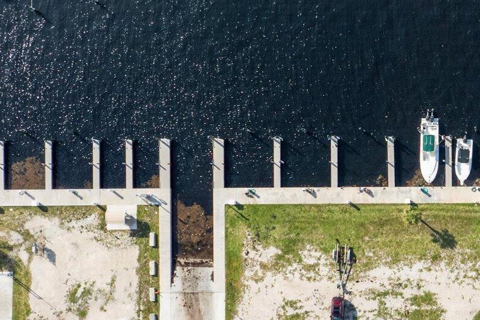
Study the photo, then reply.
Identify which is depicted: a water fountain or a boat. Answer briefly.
boat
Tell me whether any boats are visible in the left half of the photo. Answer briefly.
No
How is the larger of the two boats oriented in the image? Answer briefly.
vertically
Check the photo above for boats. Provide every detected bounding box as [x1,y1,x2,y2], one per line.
[419,109,441,184]
[454,133,473,184]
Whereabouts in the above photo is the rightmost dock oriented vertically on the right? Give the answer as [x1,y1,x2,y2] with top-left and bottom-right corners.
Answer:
[442,136,455,187]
